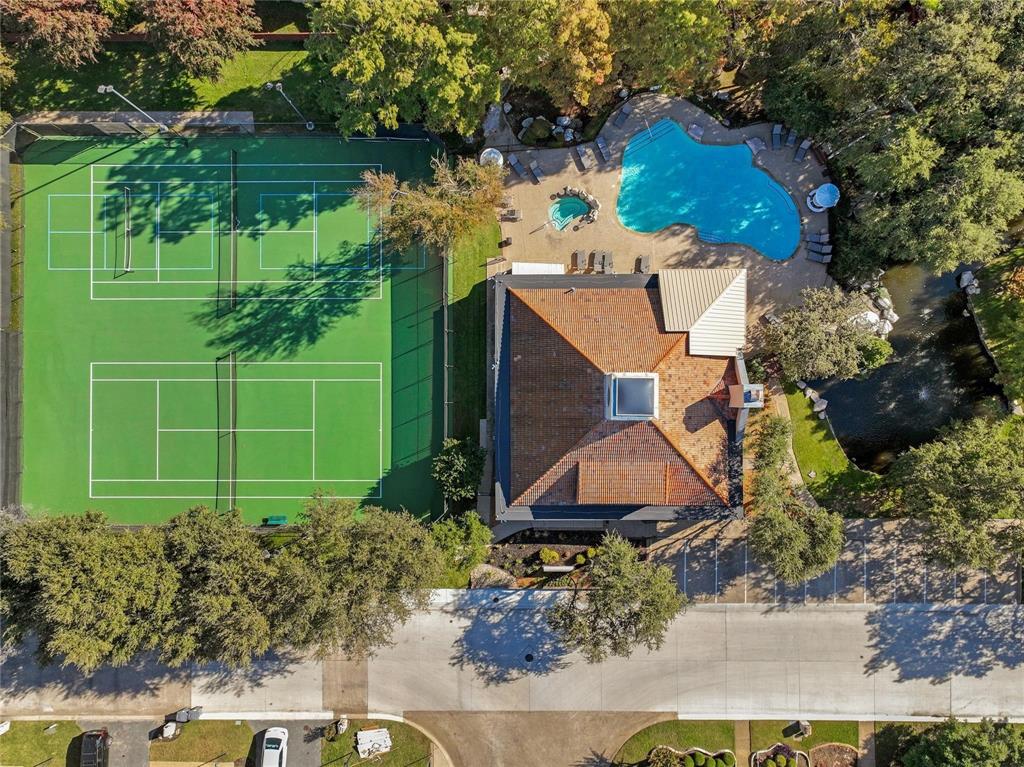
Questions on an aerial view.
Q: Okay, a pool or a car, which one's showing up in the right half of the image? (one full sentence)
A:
There is a pool in the right half of the image.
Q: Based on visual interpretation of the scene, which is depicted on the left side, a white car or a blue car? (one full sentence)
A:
What appears on the left side is a white car.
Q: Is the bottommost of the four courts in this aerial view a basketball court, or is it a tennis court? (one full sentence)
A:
The bottommost of the four courts in the image is a tennis court.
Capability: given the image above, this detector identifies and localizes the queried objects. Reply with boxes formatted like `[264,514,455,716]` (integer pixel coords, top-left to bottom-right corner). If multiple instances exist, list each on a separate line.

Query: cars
[258,726,287,767]
[77,730,110,767]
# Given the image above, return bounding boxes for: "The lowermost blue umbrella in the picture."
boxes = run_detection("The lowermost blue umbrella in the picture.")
[810,183,840,207]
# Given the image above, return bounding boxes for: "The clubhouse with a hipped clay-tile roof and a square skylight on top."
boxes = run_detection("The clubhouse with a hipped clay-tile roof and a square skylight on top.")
[494,262,767,521]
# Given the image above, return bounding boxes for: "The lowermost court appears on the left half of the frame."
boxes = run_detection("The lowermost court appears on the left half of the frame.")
[22,331,443,524]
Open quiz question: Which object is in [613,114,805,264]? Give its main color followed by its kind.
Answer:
blue swimming pool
